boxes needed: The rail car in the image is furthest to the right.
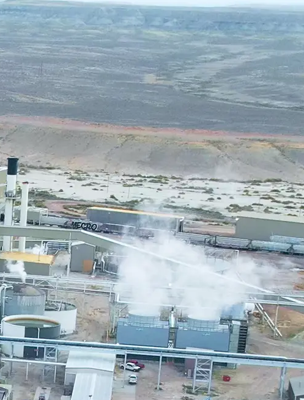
[267,242,304,258]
